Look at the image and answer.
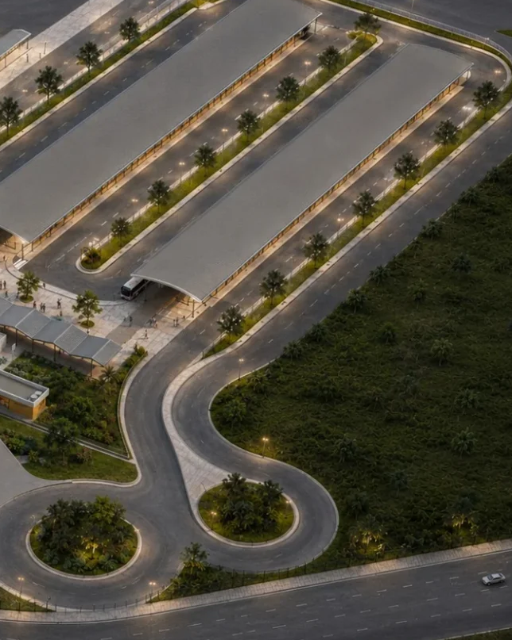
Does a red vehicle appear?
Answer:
No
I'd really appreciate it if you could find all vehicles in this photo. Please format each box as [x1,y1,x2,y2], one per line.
[124,277,163,305]
[477,570,508,585]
